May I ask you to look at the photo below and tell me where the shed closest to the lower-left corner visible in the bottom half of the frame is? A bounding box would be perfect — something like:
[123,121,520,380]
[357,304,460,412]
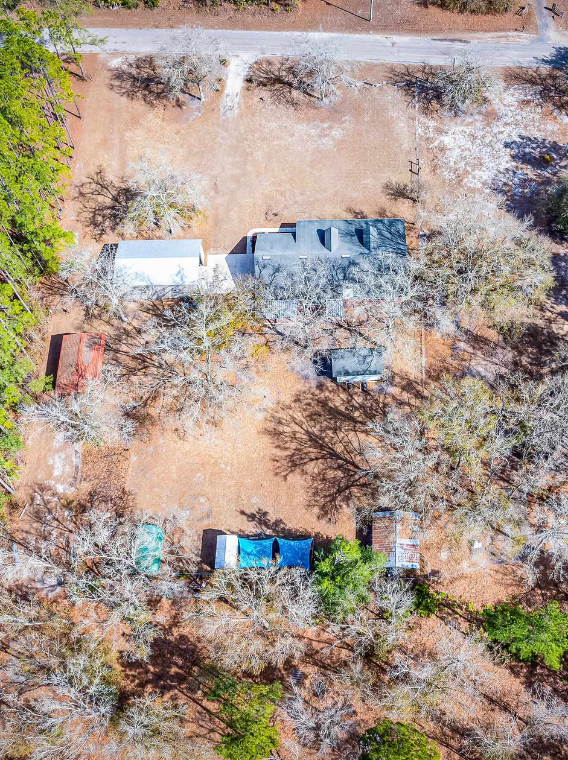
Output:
[215,533,240,574]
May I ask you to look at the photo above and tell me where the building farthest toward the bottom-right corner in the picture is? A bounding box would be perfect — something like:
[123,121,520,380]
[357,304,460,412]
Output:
[372,510,421,574]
